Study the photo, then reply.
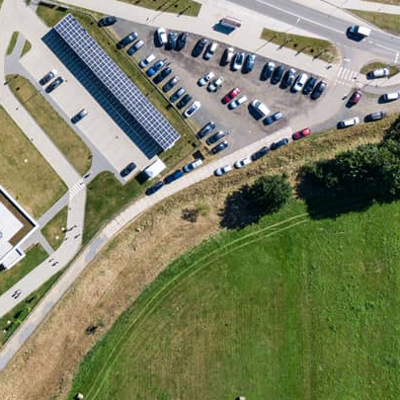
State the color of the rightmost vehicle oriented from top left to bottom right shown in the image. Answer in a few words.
white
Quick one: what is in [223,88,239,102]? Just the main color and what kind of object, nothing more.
red car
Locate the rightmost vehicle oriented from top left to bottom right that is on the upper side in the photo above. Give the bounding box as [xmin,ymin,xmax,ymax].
[249,98,271,119]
